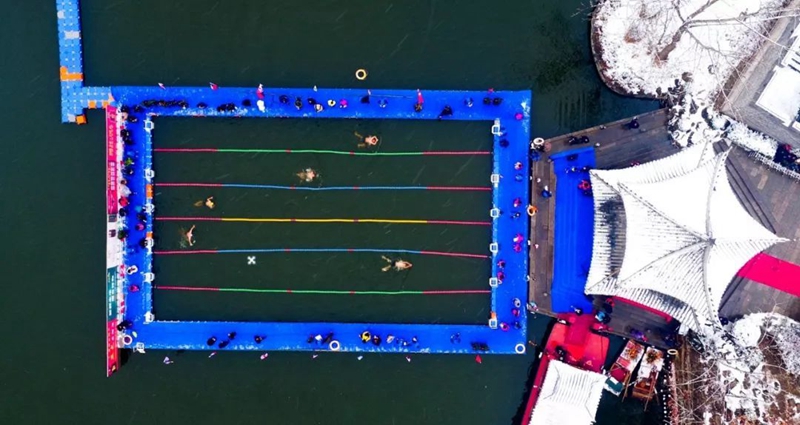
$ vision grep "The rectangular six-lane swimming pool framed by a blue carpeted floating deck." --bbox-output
[112,87,531,353]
